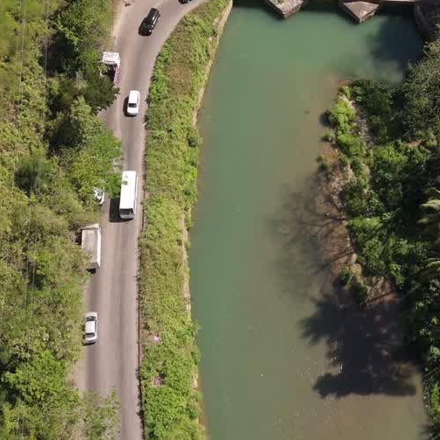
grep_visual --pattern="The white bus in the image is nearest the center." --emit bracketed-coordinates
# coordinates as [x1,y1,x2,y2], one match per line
[117,174,141,223]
